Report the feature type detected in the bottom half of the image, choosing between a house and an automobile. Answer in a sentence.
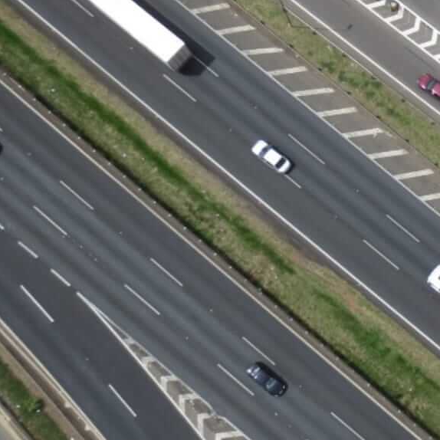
There is an automobile in the bottom half of the image.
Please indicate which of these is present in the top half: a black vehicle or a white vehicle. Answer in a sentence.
What appears in the top half is a white vehicle.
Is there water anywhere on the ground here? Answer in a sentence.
No, water can't be seen anywhere here.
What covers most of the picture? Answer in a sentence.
The scene is dominated by paved ground.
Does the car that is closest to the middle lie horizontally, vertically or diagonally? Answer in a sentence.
The car that is closest to the middle is oriented diagonally.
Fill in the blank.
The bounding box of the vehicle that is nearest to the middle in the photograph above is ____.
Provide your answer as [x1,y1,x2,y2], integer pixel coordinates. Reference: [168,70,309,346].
[253,139,291,174]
